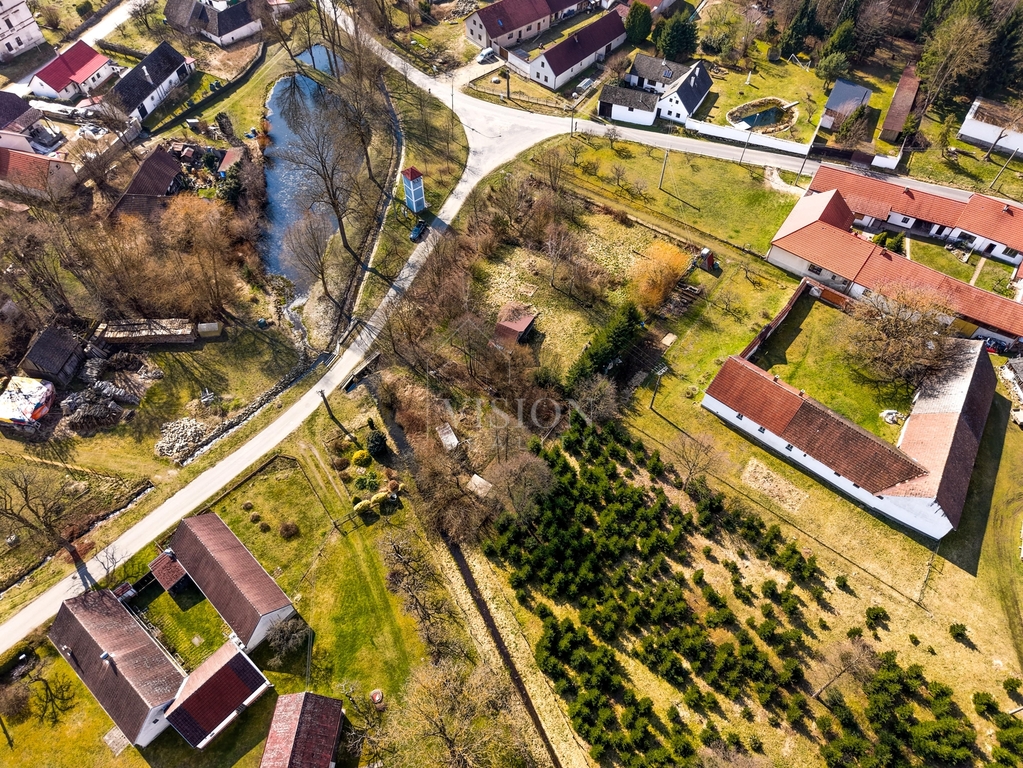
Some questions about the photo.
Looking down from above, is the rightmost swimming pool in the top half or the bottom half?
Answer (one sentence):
The top half of the photo is where the rightmost swimming pool is.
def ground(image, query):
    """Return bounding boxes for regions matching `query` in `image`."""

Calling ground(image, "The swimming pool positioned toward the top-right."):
[743,107,786,131]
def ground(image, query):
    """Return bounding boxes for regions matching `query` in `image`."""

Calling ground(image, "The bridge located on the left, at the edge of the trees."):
[324,317,379,387]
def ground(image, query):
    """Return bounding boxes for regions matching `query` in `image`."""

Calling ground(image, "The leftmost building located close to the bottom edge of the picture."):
[47,589,192,744]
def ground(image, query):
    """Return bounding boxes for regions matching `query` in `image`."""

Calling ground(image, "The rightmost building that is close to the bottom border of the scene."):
[263,692,345,768]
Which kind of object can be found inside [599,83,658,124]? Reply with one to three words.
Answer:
shed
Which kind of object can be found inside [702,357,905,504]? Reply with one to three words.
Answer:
barn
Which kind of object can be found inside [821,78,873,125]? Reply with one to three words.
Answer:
shed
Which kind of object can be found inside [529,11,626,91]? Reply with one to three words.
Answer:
house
